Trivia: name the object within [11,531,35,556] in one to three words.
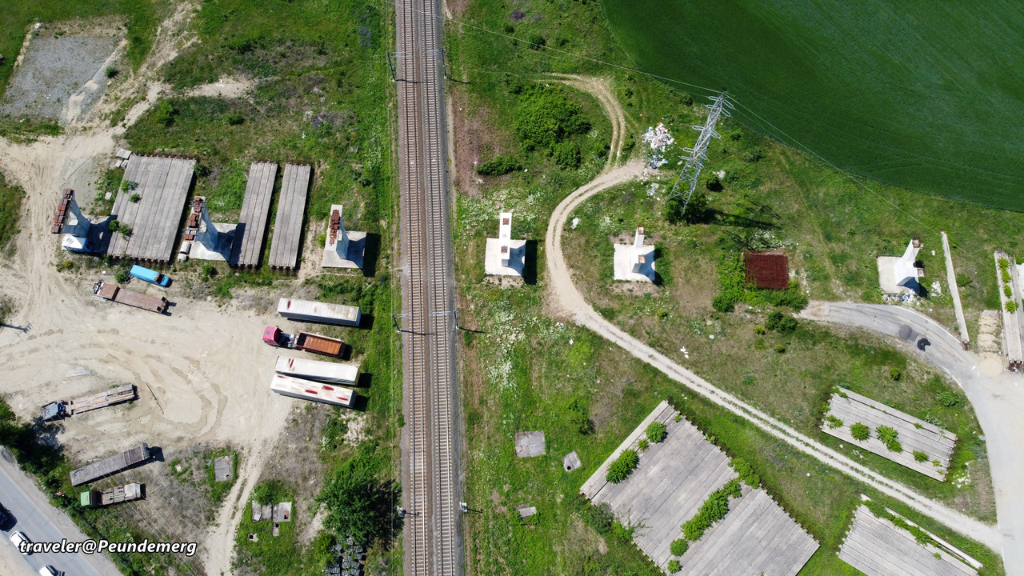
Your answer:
car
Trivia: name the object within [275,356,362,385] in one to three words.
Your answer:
trailer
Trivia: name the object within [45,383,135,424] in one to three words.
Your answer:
truck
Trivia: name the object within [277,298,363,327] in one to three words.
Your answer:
trailer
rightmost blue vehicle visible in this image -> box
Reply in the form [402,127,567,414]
[130,264,170,289]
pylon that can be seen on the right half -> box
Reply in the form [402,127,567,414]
[660,97,737,225]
